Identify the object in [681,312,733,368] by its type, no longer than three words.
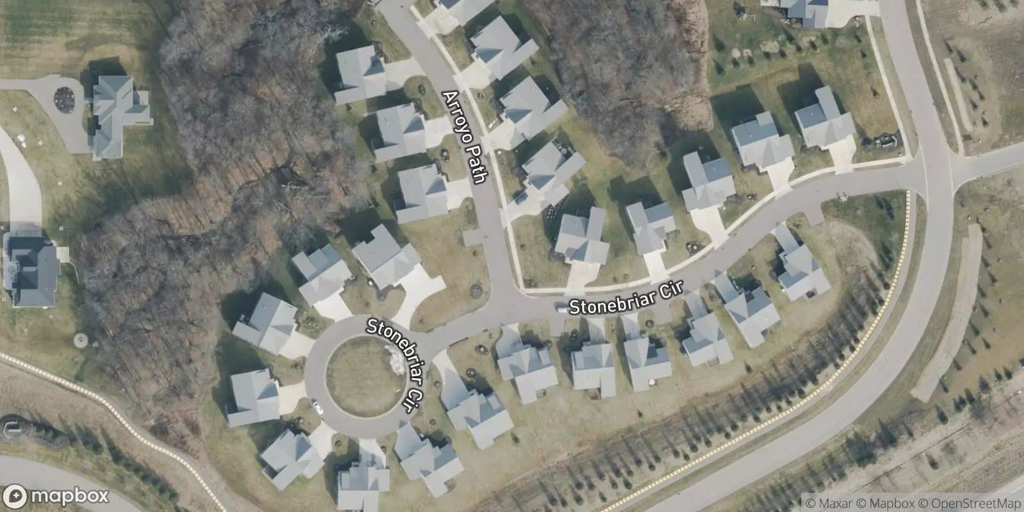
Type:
house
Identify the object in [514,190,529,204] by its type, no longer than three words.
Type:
vehicle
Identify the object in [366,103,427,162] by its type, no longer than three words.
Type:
house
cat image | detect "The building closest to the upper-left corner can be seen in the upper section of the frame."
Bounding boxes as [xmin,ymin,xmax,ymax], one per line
[92,76,151,159]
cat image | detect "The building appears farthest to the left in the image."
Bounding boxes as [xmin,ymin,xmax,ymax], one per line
[9,238,60,307]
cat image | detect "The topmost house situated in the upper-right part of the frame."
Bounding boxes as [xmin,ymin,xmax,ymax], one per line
[777,0,833,28]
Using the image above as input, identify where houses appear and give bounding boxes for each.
[776,244,832,300]
[520,142,591,219]
[387,164,448,222]
[232,292,297,354]
[92,76,151,159]
[9,238,60,307]
[446,391,513,453]
[570,344,616,397]
[681,312,733,368]
[469,16,539,80]
[556,205,612,265]
[777,0,833,28]
[498,76,568,140]
[286,244,349,304]
[401,444,468,505]
[791,85,857,151]
[434,0,495,26]
[495,343,559,404]
[366,103,427,162]
[623,200,677,257]
[622,334,672,392]
[326,46,387,105]
[722,287,780,348]
[351,223,422,290]
[261,430,335,499]
[729,110,797,171]
[337,464,389,512]
[221,368,281,427]
[680,153,738,212]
